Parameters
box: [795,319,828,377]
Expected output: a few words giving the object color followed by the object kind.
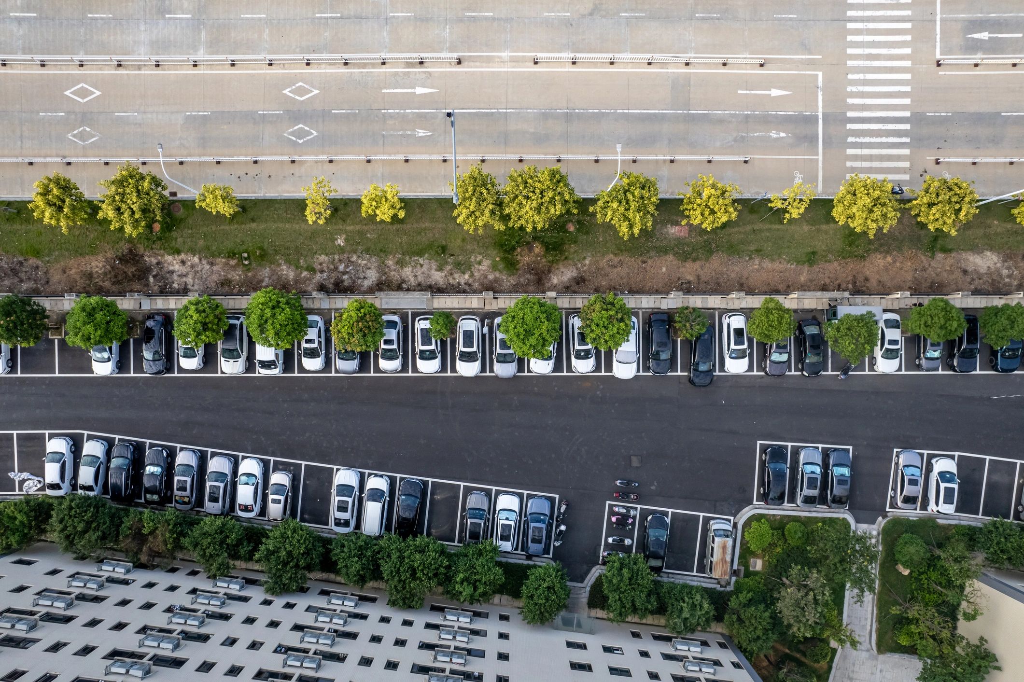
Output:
black car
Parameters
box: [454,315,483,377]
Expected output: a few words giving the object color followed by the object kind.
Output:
white car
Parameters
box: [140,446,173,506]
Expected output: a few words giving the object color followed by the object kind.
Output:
black car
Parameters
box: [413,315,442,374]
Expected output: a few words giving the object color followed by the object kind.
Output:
white car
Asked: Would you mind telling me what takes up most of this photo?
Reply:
paved ground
